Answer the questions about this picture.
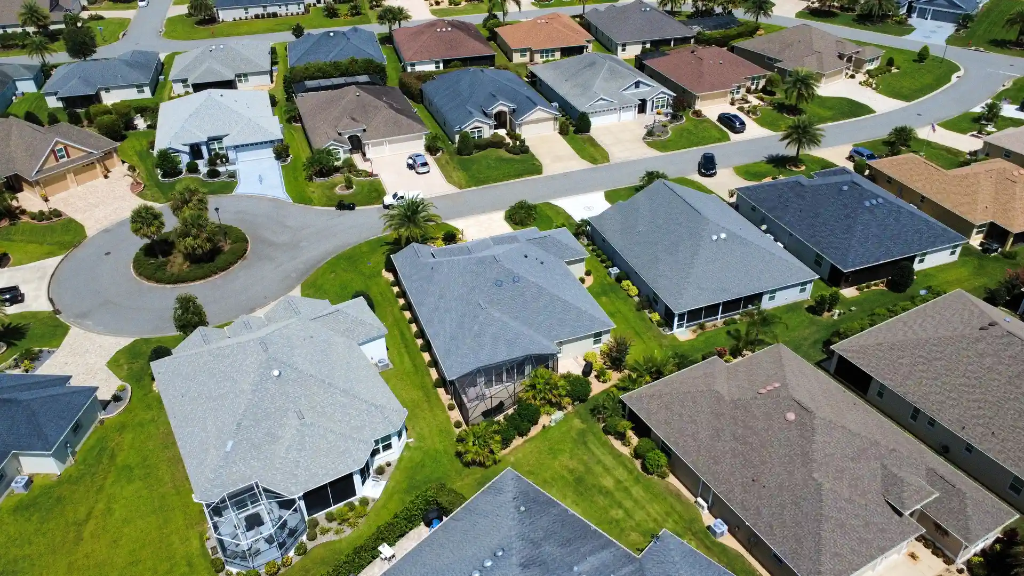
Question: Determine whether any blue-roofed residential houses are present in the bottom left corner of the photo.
Yes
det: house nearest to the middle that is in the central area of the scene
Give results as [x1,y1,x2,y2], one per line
[390,227,617,425]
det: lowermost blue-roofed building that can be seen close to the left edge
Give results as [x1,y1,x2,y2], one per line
[0,373,109,500]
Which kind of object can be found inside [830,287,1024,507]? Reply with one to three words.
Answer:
house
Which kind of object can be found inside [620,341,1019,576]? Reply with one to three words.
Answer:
house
